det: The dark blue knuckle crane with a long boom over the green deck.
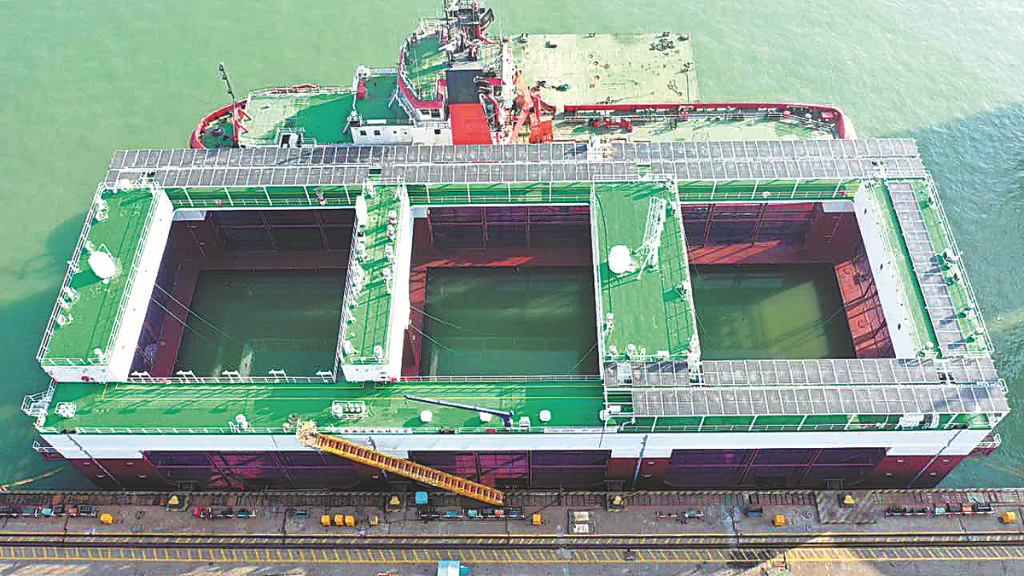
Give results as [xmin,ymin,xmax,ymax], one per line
[406,394,518,431]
